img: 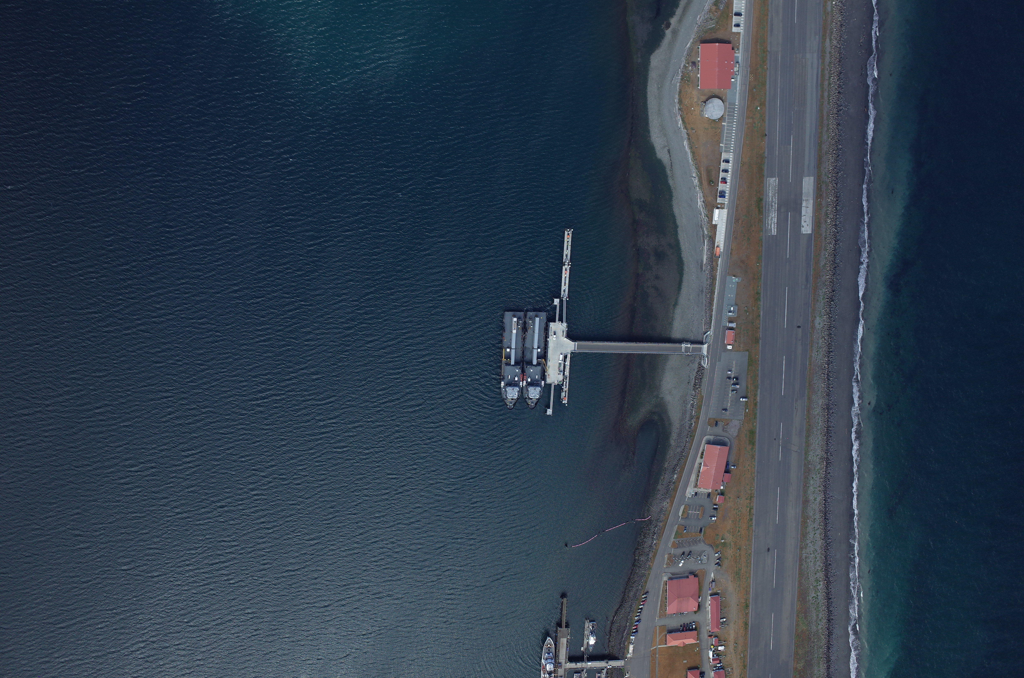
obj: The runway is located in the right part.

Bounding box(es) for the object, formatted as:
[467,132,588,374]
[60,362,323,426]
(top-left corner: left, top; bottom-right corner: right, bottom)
[745,0,824,678]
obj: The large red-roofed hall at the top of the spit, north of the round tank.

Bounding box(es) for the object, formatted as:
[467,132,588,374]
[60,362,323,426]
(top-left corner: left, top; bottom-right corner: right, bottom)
[697,43,734,89]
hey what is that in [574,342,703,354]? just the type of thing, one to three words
bridge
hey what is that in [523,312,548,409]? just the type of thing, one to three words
ship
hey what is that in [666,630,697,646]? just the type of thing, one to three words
building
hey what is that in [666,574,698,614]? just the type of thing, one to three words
building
